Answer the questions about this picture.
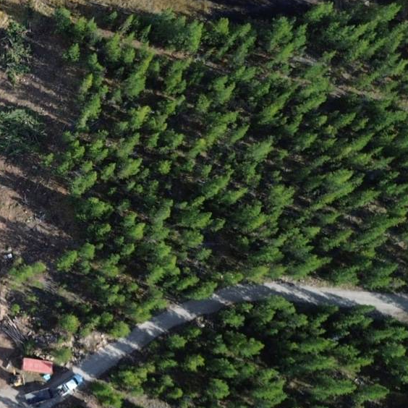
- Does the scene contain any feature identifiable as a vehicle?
Yes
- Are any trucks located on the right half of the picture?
No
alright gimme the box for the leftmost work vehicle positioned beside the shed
[4,358,26,387]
